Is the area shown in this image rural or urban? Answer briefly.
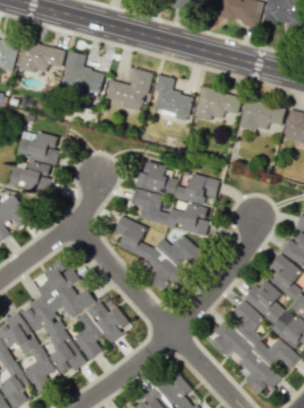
urban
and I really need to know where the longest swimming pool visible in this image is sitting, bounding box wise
[22,77,44,90]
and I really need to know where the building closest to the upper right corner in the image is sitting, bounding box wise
[262,0,301,30]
